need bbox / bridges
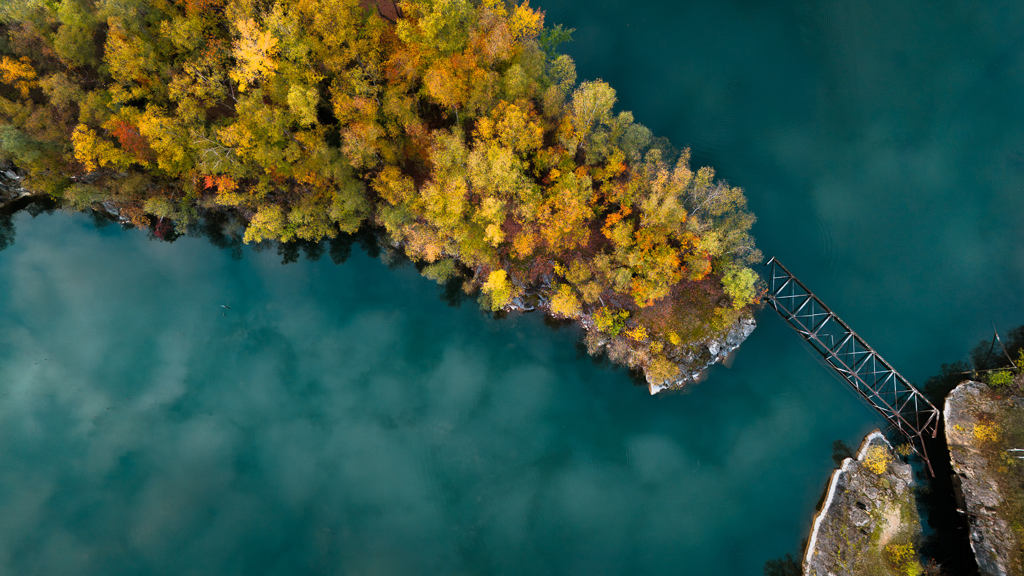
[763,257,941,478]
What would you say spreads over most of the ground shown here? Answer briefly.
water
